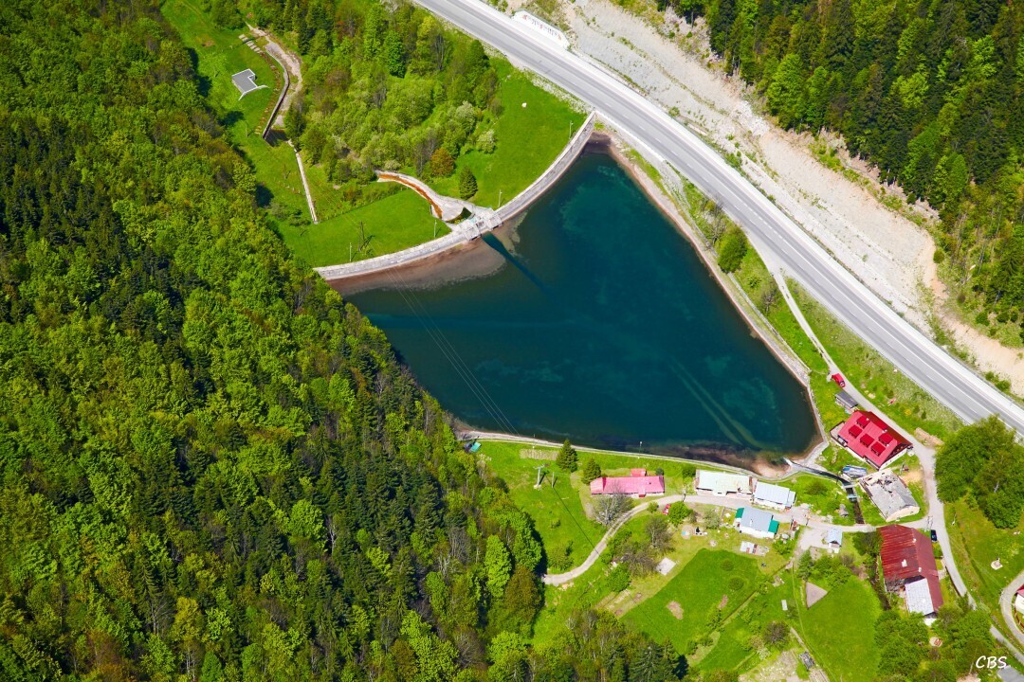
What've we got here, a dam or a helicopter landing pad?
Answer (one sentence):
It is a dam that can be seen here.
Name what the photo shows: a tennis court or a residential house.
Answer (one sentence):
This aerial view contains a residential house.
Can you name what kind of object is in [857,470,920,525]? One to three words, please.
house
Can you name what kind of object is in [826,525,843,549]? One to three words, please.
shed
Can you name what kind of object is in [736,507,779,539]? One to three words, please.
house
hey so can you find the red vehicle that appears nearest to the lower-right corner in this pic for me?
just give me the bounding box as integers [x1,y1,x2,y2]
[833,370,847,386]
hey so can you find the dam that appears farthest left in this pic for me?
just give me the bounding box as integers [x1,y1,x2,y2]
[317,117,596,284]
